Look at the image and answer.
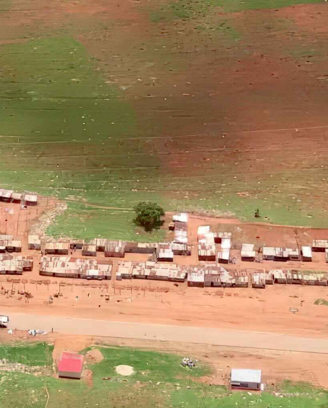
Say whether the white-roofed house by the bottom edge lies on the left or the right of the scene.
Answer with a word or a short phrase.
right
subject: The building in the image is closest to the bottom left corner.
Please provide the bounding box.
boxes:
[59,353,84,380]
